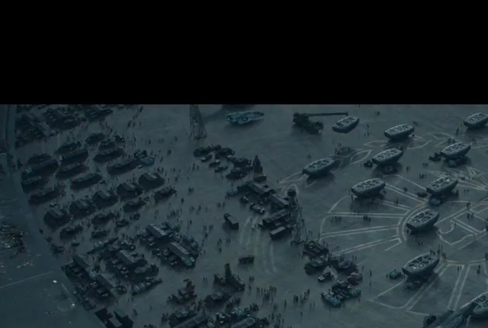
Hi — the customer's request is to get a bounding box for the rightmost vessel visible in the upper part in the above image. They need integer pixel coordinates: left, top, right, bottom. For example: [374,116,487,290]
[463,115,488,135]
